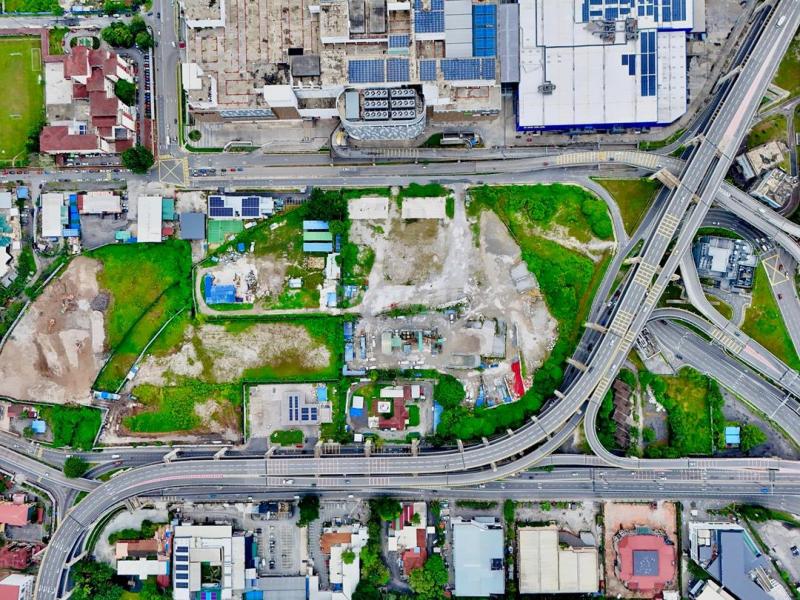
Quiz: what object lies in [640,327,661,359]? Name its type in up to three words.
building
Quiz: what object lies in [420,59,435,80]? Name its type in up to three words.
solar panel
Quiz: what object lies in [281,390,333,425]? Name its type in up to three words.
house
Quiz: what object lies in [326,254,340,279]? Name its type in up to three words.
shed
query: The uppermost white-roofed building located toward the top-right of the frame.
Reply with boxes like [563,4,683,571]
[515,0,705,134]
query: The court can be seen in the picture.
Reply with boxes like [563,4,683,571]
[208,220,243,243]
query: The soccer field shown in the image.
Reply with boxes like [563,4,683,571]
[0,38,45,166]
